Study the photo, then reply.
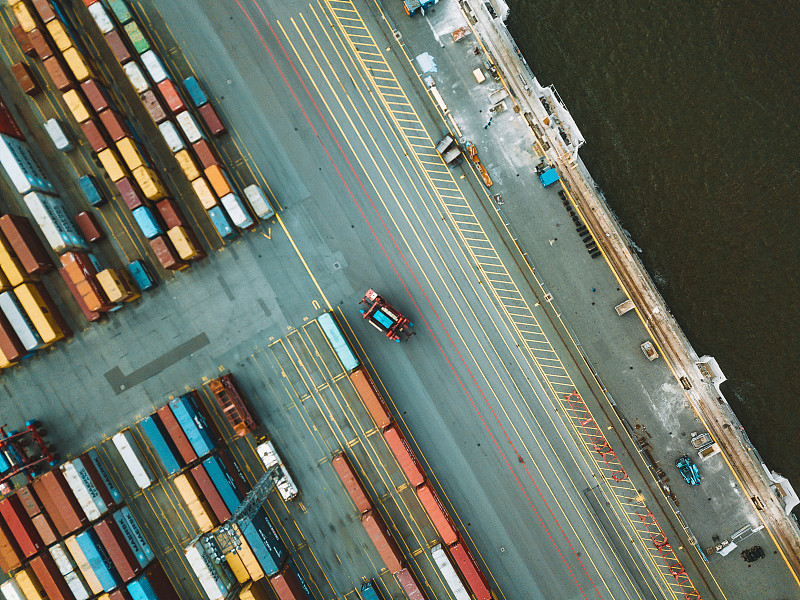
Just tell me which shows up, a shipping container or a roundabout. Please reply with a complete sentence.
Looking from above, you can make out a shipping container.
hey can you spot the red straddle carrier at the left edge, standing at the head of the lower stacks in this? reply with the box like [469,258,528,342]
[0,421,59,492]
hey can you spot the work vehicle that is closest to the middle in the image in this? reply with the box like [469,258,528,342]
[354,291,415,345]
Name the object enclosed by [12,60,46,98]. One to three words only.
shipping container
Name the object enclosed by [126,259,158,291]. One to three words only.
shipping container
